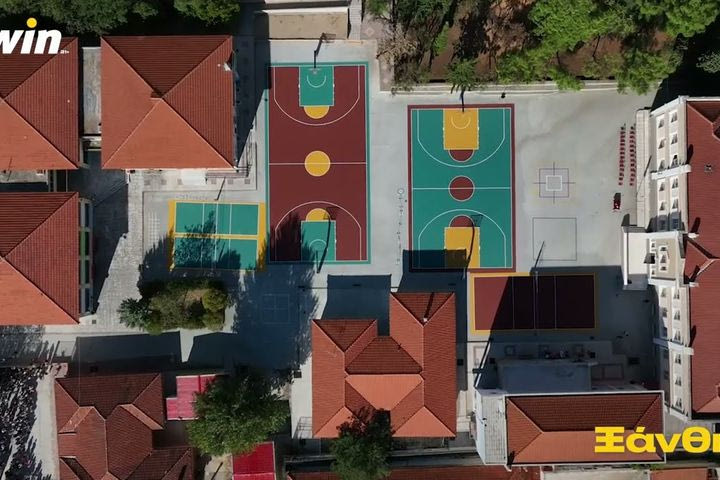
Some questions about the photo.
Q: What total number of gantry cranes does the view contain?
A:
zero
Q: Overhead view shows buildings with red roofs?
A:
Yes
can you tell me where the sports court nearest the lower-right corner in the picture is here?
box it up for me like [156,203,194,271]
[468,273,598,335]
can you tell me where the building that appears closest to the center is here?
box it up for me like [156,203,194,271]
[311,292,456,437]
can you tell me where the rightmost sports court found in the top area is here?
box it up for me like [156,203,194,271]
[533,162,574,204]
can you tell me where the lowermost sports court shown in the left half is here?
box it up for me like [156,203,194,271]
[169,200,265,272]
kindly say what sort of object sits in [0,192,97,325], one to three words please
building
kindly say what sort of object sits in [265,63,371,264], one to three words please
basketball court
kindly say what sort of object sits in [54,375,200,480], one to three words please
house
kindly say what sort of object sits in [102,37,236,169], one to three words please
building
